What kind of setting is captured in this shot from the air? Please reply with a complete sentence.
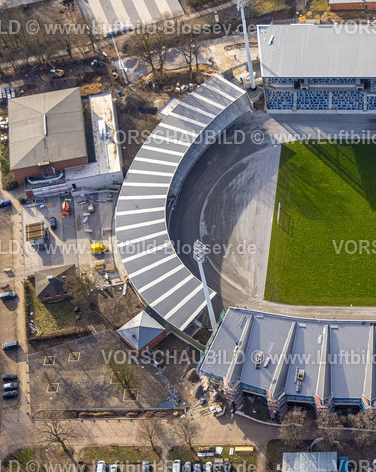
What you see here is a sports ground.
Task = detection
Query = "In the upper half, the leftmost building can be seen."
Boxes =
[5,88,89,181]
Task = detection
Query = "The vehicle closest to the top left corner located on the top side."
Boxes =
[47,57,63,78]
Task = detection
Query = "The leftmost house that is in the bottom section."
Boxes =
[34,265,75,303]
